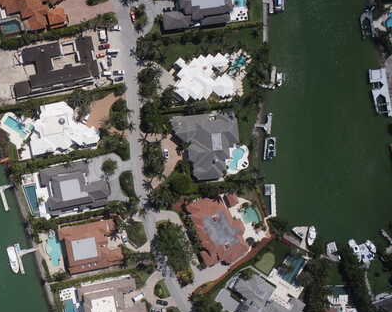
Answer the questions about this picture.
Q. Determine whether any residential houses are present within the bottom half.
Yes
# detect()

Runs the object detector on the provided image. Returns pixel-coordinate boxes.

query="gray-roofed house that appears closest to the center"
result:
[170,113,240,181]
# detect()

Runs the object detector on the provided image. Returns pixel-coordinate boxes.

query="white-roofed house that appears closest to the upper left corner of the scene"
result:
[26,101,98,158]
